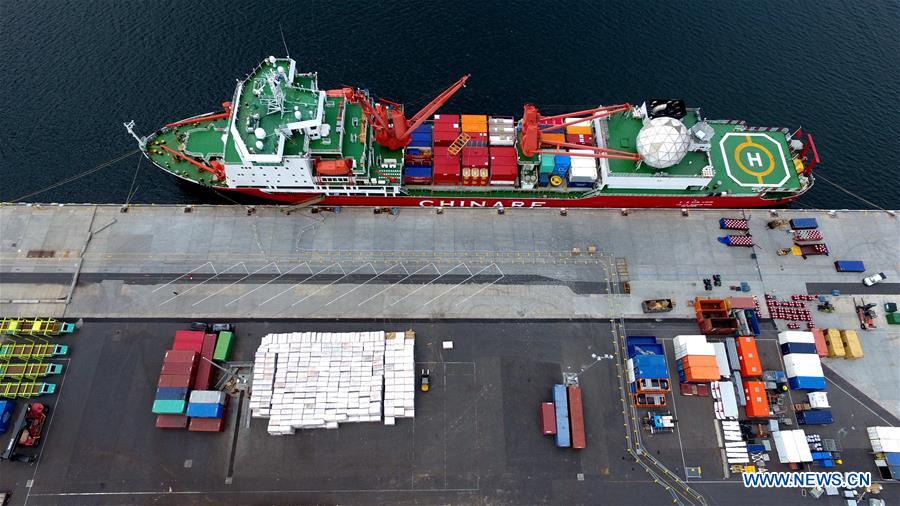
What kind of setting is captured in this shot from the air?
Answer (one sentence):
The picture captures a port.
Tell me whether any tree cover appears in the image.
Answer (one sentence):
No, there's no tree cover in this view.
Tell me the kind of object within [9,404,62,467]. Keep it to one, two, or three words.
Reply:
work vehicle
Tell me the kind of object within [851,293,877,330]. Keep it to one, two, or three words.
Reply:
work vehicle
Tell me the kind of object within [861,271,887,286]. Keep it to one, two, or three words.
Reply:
vehicle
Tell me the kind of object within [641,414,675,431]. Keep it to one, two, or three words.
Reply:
vehicle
